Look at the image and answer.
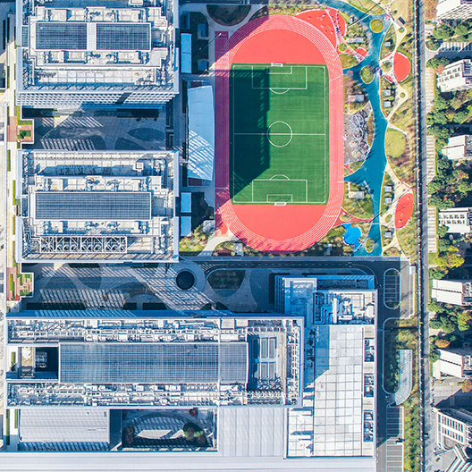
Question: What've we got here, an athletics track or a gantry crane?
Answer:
athletics track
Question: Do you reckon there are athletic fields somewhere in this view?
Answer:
Yes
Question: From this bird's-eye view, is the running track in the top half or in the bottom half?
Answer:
top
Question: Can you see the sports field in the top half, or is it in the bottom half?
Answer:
top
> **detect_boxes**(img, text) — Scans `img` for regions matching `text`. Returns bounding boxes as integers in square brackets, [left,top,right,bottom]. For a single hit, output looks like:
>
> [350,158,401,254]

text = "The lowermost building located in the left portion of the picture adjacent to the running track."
[6,309,303,408]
